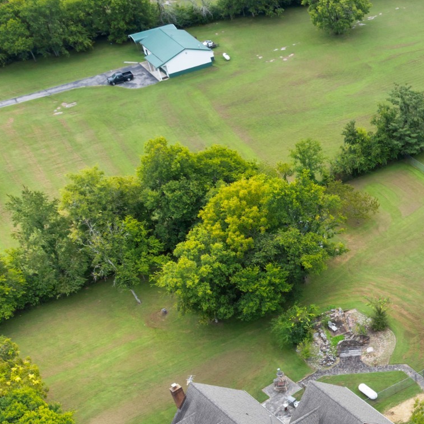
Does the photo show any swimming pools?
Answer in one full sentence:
No, the photo shows no swimming pool.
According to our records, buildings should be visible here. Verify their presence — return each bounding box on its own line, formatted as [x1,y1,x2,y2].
[167,375,390,424]
[137,27,213,80]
